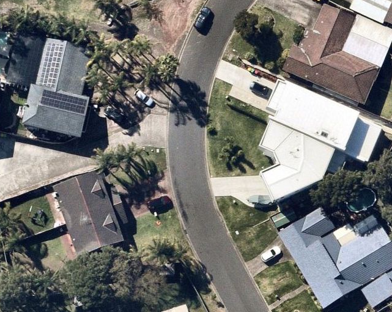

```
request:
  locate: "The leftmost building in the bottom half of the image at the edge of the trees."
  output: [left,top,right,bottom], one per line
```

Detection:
[53,171,128,251]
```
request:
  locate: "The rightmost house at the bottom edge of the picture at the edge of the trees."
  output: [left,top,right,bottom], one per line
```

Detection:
[273,206,392,312]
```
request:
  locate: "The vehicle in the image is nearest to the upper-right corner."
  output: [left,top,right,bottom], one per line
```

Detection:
[249,83,271,96]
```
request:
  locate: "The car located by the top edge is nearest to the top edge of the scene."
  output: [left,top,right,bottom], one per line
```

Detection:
[195,7,211,31]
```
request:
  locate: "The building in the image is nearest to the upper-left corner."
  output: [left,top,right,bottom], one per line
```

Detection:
[18,34,92,138]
